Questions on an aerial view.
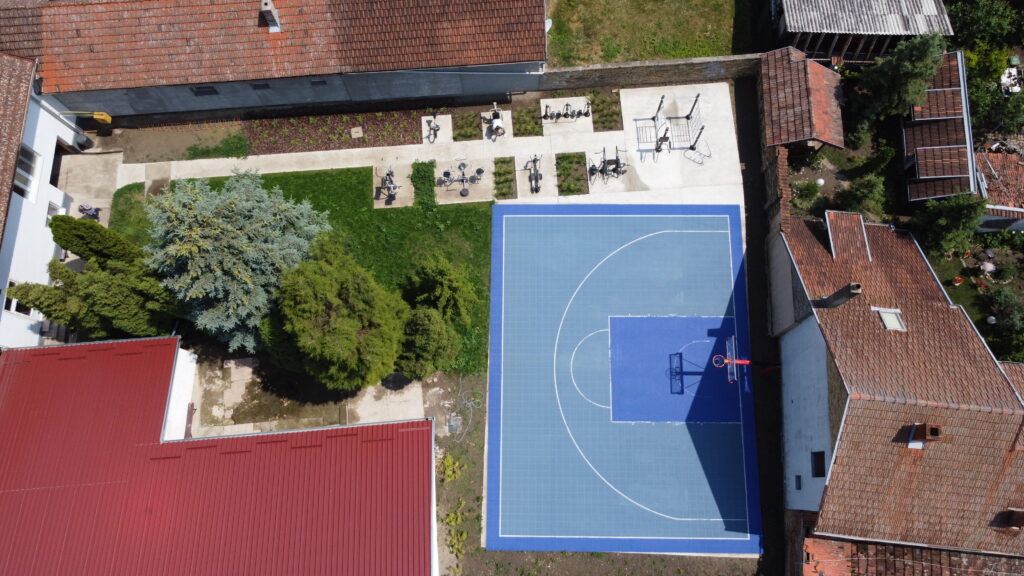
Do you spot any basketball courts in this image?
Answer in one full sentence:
Yes, there is a basketball court in the image.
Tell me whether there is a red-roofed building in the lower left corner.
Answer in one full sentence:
Yes, a red-roofed building appears in the lower left corner.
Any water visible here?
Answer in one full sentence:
No, the scene doesn't show any water.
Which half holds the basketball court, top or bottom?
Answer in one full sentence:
The basketball court is in the bottom half of the image.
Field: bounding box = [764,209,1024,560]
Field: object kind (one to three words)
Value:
house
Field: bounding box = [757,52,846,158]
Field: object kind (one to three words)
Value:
shed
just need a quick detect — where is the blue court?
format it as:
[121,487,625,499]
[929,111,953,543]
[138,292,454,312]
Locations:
[481,203,762,558]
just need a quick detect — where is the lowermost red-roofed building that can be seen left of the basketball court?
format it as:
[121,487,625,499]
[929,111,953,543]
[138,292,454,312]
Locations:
[0,334,439,576]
